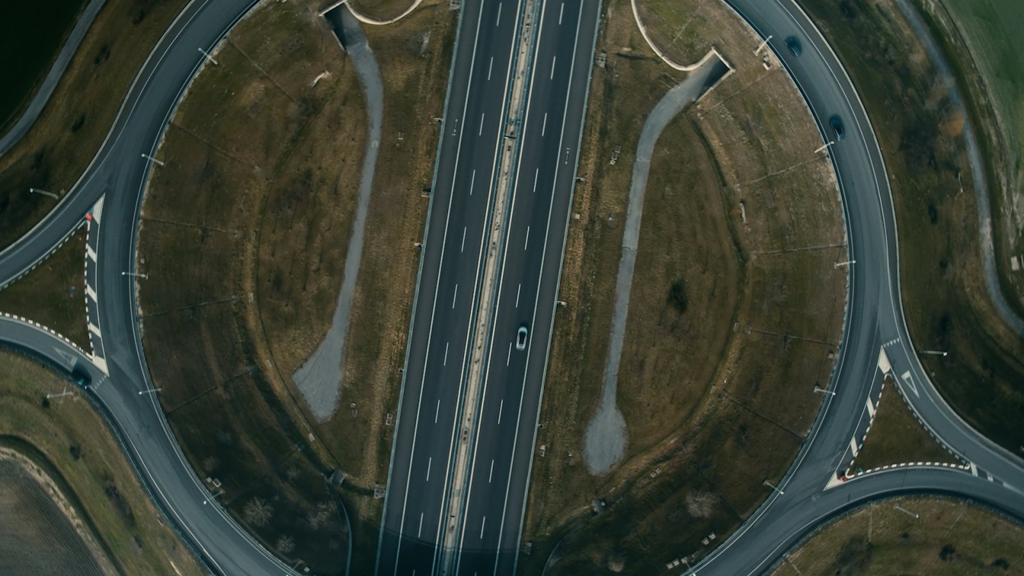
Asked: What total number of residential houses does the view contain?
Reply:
zero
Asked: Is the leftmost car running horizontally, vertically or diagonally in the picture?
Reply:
diagonally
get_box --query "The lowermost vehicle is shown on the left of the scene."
[71,367,94,389]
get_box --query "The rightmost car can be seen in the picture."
[829,115,844,140]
